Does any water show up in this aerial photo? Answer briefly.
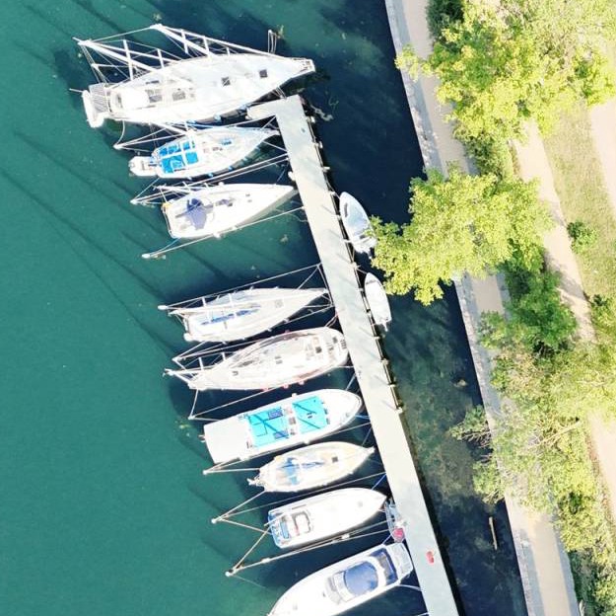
Yes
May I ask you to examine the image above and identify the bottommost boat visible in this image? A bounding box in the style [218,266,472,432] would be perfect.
[235,534,420,616]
